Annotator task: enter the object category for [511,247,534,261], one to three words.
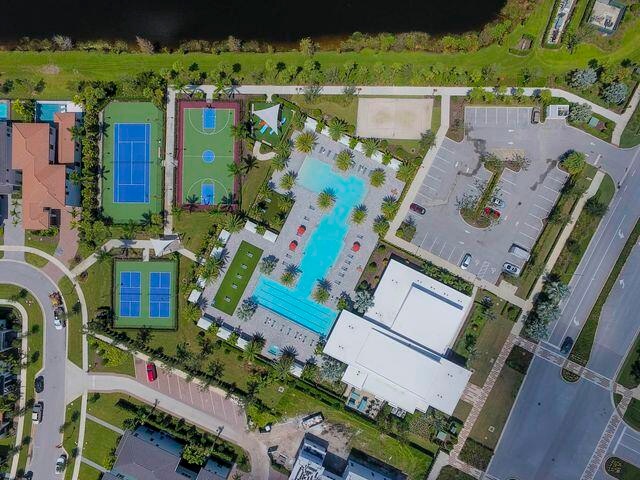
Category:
vehicle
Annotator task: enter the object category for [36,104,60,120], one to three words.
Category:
swimming pool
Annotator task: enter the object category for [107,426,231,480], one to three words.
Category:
house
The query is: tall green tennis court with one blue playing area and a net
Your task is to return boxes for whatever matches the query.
[102,101,162,222]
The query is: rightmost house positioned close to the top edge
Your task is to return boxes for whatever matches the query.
[589,0,629,32]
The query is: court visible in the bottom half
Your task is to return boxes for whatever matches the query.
[113,260,178,329]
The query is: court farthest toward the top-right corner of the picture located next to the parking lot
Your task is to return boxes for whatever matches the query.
[356,97,434,139]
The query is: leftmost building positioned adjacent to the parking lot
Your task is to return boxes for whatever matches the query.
[323,259,473,416]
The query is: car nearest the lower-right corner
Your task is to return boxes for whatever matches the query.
[559,335,572,353]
